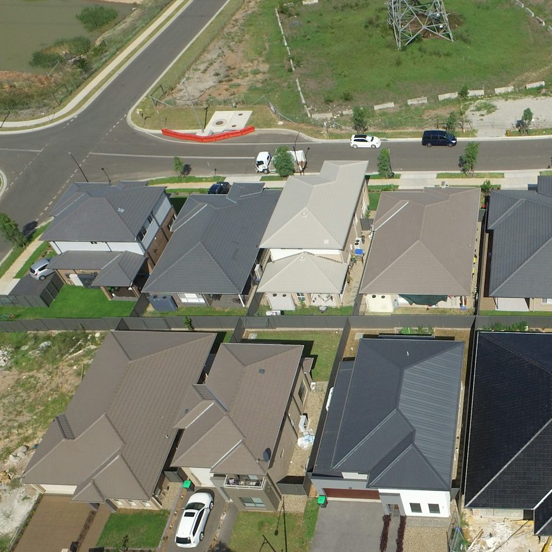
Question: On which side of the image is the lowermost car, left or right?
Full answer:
The lowermost car is on the left side of the image.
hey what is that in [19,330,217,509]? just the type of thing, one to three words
house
